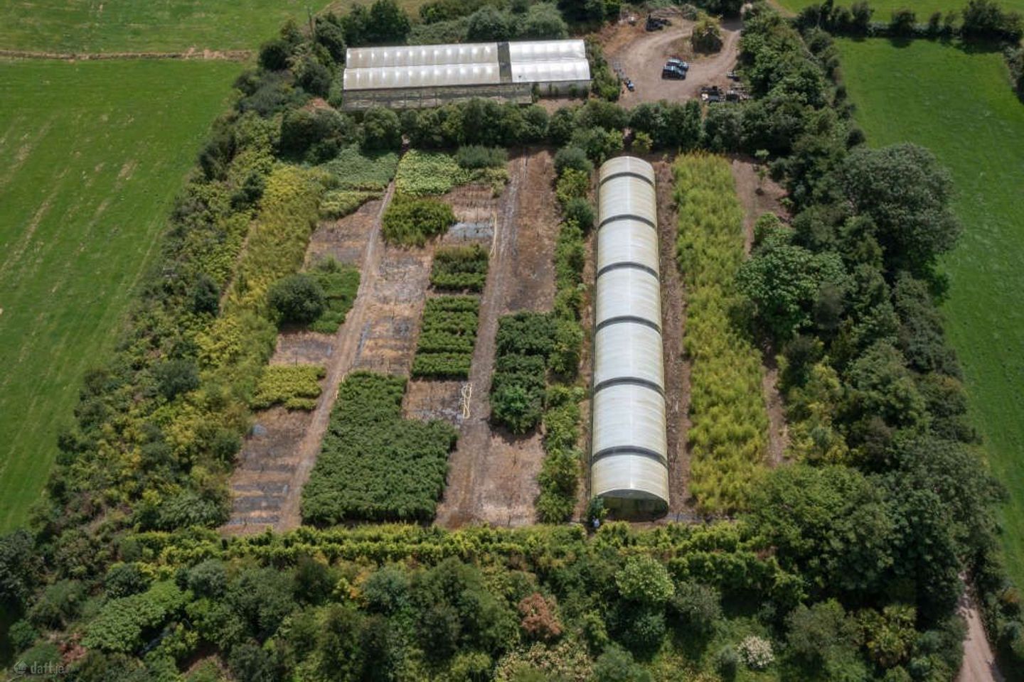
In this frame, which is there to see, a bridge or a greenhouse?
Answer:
greenhouse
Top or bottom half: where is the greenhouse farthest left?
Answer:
top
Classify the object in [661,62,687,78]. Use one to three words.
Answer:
car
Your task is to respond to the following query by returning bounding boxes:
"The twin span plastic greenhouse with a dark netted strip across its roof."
[343,36,591,112]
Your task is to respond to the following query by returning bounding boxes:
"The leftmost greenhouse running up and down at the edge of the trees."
[589,156,671,510]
